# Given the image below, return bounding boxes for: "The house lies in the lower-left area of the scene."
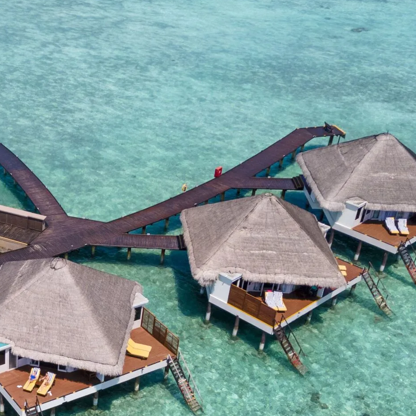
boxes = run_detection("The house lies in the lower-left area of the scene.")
[0,257,207,416]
